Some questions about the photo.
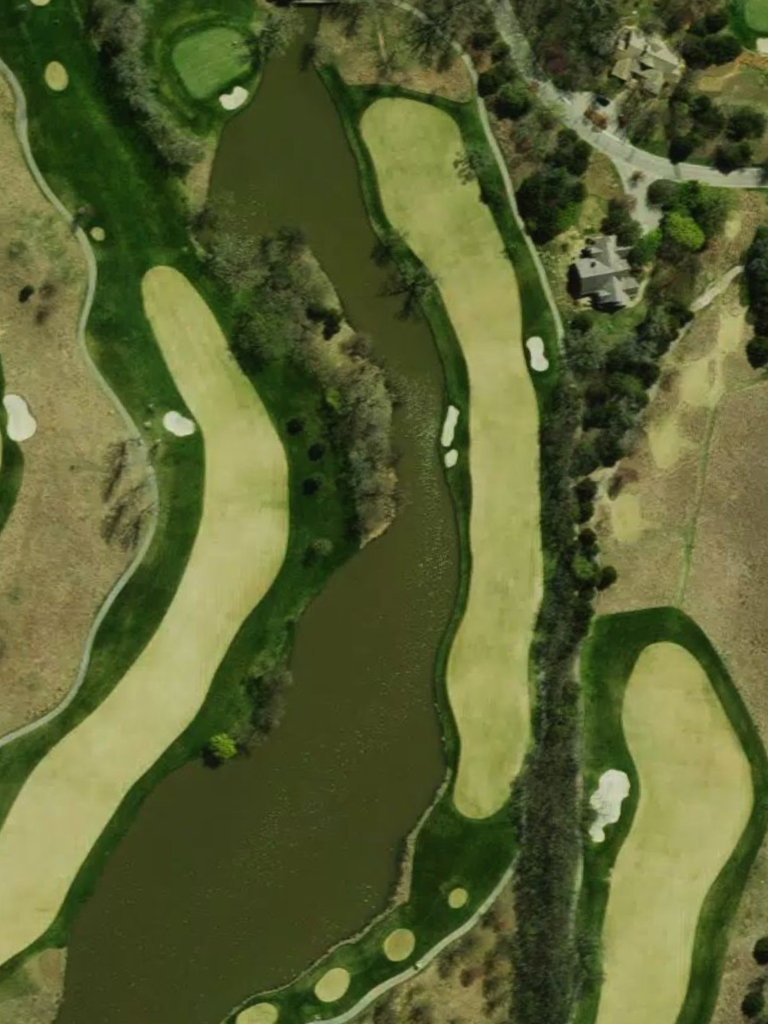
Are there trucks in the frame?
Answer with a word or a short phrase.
No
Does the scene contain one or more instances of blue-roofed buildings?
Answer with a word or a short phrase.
No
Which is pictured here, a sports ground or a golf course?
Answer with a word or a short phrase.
golf course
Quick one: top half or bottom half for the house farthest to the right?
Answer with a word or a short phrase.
top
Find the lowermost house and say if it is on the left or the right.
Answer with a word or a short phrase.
right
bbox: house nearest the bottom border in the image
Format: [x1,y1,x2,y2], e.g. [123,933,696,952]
[569,237,640,308]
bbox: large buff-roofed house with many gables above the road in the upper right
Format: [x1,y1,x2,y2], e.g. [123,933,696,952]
[607,31,681,95]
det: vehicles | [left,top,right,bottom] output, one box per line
[414,961,422,968]
[596,95,610,107]
[619,116,626,129]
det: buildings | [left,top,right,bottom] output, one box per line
[569,237,640,308]
[607,31,681,95]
